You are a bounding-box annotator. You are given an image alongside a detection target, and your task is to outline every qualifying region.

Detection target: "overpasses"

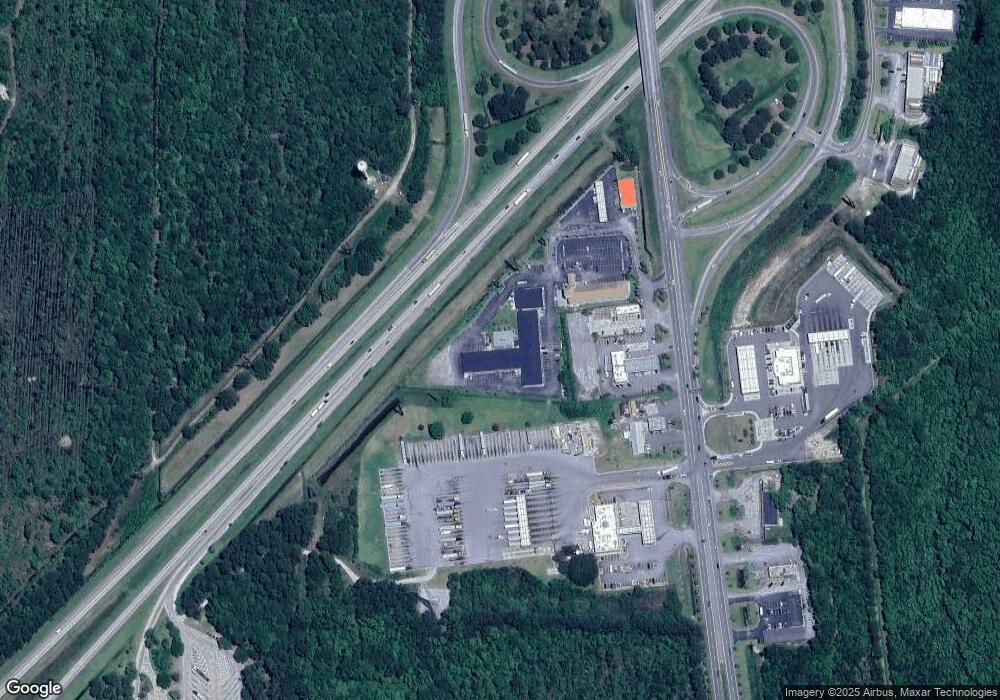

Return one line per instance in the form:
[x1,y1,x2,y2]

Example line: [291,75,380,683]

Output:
[636,0,662,102]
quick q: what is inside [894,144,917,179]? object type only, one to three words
building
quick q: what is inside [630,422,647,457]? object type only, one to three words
building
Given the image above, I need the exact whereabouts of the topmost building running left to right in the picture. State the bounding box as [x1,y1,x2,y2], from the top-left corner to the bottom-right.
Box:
[901,7,953,32]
